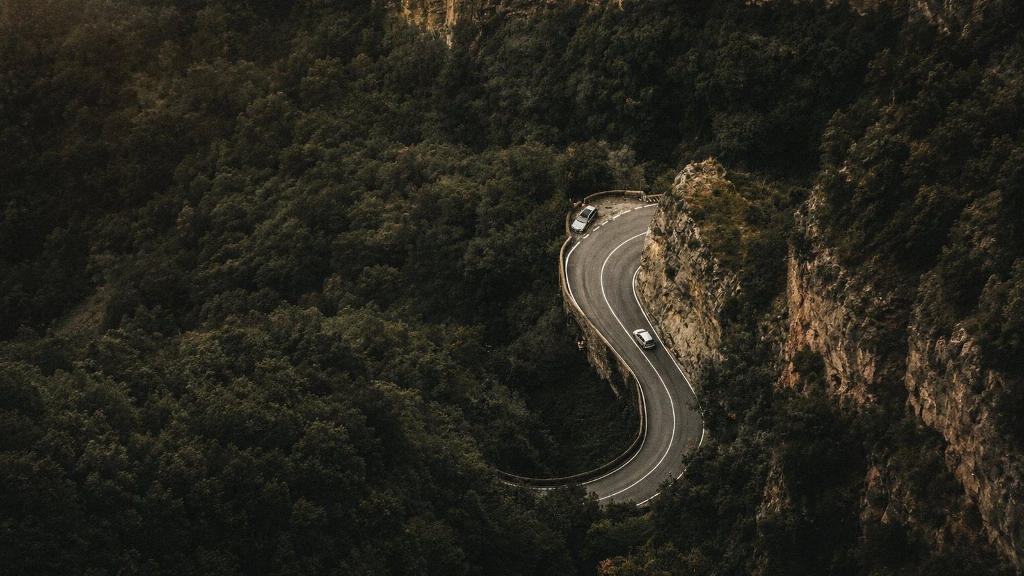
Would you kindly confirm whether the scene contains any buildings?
No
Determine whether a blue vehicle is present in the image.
No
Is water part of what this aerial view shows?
No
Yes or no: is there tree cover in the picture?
Yes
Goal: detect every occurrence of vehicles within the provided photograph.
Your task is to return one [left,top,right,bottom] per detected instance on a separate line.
[634,329,656,351]
[573,205,598,231]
